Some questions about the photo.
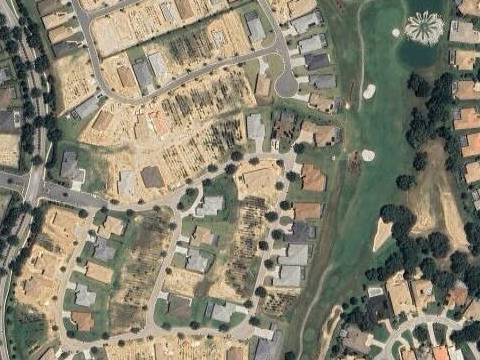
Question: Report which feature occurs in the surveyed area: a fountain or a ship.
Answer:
fountain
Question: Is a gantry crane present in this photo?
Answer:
No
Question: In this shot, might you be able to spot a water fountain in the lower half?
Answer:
No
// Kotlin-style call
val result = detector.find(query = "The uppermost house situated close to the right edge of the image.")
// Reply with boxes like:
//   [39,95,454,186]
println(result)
[451,0,480,14]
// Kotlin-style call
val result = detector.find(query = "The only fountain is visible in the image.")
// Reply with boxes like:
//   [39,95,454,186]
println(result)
[403,4,446,49]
